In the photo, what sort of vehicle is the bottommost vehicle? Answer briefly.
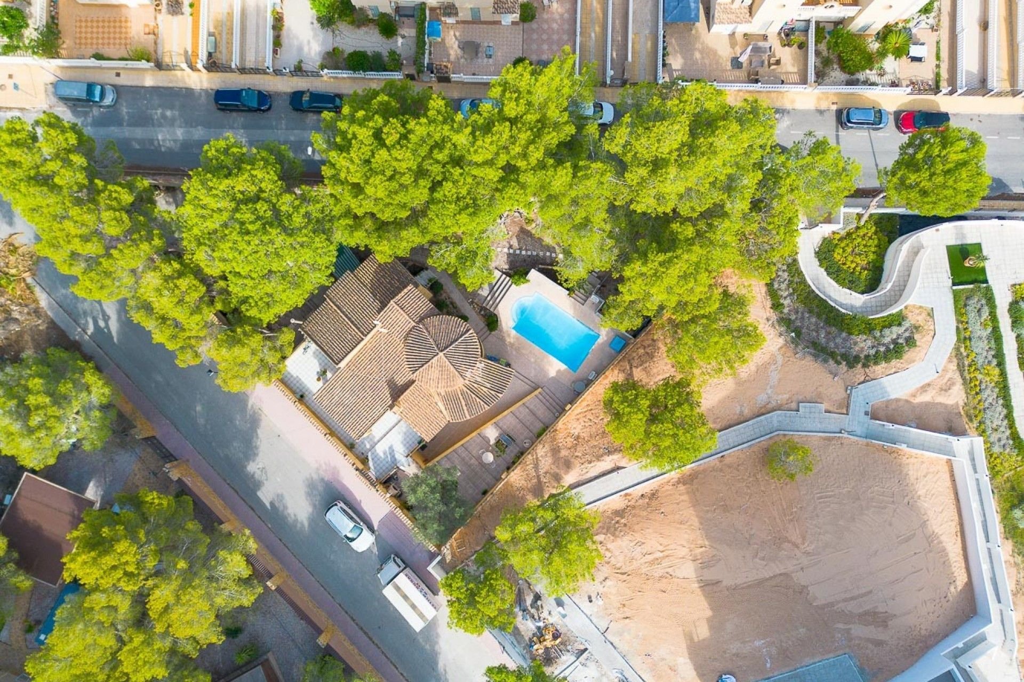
truck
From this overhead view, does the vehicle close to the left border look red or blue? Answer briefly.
blue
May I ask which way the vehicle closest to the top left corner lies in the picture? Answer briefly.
horizontally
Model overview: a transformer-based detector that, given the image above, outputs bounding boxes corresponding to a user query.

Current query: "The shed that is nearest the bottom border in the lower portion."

[220,641,294,682]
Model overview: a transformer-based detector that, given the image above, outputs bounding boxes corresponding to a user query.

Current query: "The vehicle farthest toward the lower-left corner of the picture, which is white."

[323,498,374,551]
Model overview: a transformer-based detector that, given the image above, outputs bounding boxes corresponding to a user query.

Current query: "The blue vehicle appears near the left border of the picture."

[51,77,115,108]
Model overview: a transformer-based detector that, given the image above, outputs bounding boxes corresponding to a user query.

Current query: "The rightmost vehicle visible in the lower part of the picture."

[369,546,443,631]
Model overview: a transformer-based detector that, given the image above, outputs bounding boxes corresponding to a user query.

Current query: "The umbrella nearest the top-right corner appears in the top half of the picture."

[732,49,749,68]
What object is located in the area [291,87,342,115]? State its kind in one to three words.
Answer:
car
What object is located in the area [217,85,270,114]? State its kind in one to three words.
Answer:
car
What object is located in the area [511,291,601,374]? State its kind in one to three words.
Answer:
swimming pool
